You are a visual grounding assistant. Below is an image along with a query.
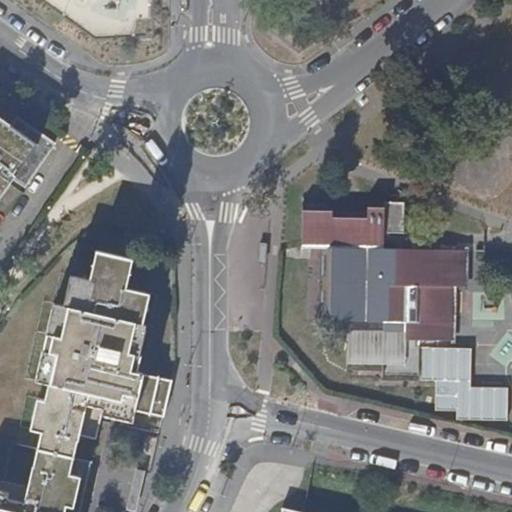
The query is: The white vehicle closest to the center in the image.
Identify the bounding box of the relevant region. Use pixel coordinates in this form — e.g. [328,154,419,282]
[145,136,168,166]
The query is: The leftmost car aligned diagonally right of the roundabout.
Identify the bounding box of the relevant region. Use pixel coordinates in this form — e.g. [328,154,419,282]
[307,53,331,72]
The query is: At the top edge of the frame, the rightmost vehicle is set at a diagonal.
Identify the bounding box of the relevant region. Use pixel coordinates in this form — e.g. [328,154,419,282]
[434,14,454,30]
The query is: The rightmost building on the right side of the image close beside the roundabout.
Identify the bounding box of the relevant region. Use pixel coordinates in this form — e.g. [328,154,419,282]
[302,207,468,374]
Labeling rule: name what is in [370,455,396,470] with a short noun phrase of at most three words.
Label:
vehicle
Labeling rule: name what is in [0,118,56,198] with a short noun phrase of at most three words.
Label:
building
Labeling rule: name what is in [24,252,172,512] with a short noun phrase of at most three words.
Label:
building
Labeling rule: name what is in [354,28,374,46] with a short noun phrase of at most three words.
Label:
car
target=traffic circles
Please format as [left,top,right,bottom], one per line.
[150,56,282,188]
